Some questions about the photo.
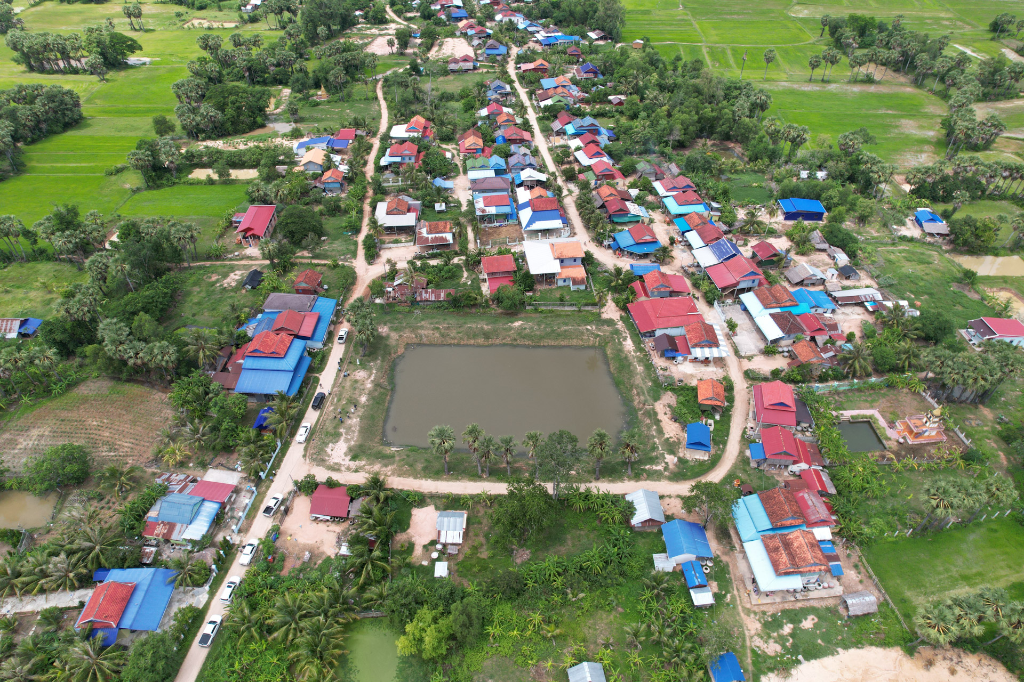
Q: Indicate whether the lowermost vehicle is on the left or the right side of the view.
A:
left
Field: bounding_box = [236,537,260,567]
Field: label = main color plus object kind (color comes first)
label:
white vehicle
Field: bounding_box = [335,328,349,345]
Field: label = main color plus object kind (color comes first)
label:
white vehicle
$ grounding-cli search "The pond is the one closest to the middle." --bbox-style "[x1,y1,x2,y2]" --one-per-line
[382,344,625,450]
